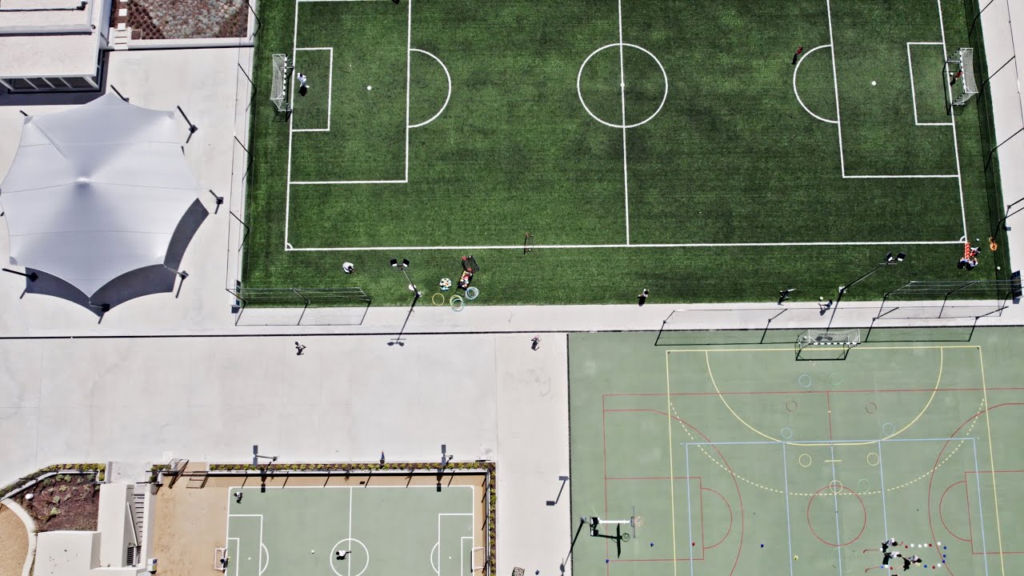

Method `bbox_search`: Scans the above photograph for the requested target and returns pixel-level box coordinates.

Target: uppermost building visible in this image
[0,0,109,94]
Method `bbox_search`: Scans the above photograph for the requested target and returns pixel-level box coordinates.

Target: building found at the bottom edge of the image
[32,530,101,576]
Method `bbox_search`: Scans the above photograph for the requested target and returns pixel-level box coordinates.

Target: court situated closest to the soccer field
[569,327,1024,576]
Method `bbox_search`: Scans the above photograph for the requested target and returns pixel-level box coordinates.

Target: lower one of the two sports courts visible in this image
[225,484,474,576]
